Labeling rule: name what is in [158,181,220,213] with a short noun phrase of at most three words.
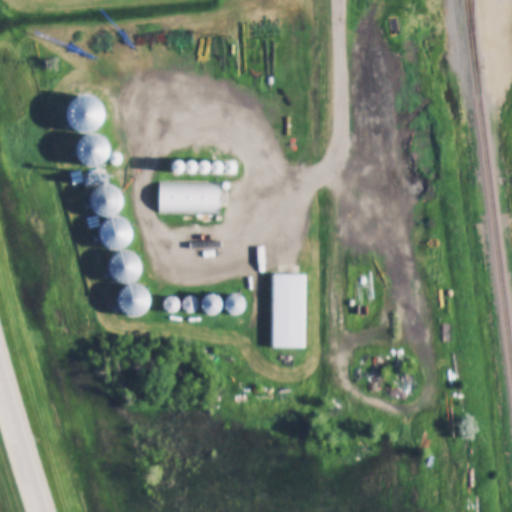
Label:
building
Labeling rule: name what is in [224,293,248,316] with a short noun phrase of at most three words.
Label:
silo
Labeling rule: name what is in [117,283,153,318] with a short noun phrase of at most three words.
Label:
silo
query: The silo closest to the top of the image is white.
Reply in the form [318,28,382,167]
[66,92,106,133]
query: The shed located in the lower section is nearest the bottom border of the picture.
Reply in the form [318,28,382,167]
[272,273,308,349]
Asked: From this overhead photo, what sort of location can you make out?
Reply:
industrial area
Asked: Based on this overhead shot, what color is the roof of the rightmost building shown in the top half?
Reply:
white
